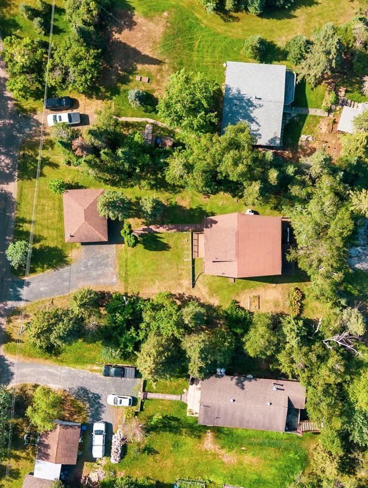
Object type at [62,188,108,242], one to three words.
building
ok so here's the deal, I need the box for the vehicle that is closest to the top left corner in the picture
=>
[45,96,75,110]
